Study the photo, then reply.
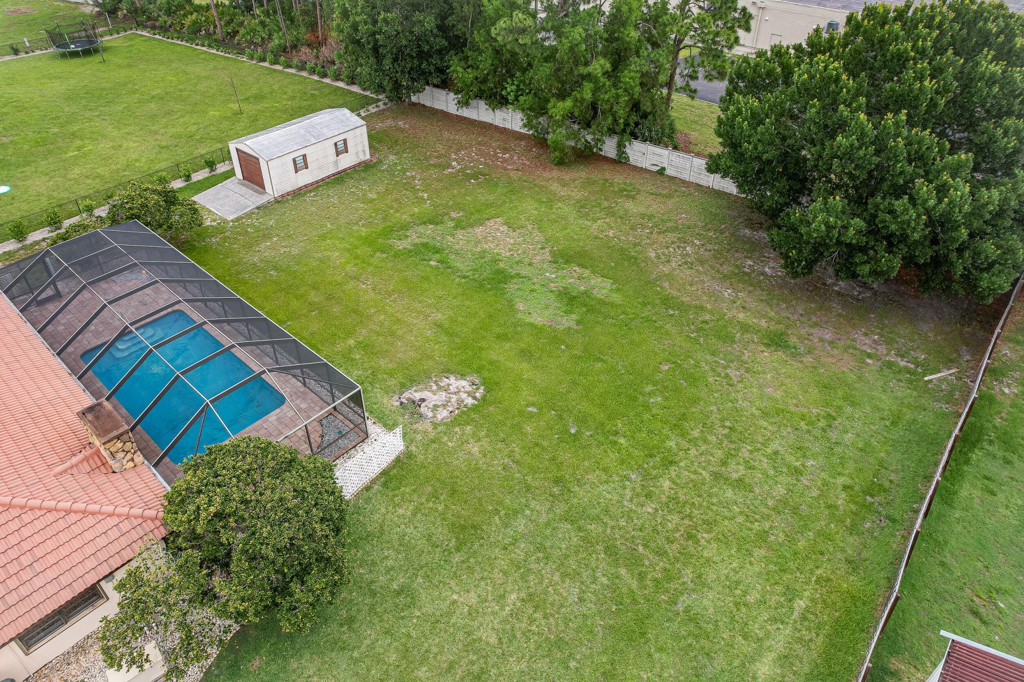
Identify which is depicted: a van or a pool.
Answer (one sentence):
Visible in the photo is a pool.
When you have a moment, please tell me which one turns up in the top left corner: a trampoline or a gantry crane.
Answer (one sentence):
The feature located in the top left corner is a trampoline.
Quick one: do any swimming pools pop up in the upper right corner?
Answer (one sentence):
No, looking in the upper right corner, there is no swimming pool.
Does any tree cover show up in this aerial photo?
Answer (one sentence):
Yes, some tree cover is visible.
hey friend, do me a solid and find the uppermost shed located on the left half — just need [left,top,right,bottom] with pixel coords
[224,105,366,196]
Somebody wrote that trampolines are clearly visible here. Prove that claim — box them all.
[40,18,109,66]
